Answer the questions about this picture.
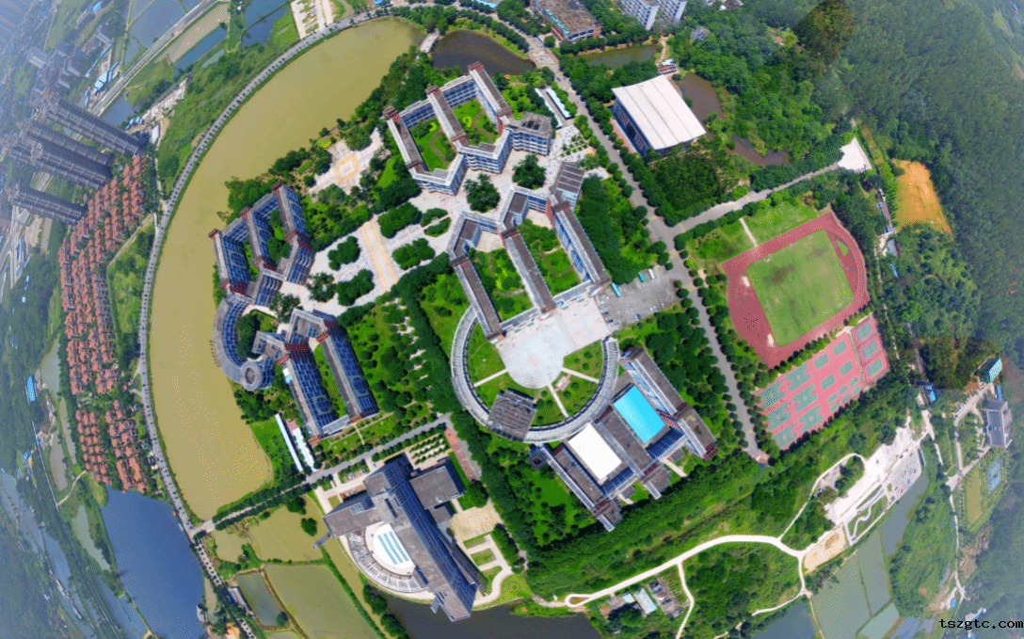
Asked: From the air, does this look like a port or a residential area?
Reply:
residential area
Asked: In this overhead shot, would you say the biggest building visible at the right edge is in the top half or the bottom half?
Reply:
bottom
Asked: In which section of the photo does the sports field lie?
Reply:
right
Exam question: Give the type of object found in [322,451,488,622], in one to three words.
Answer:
building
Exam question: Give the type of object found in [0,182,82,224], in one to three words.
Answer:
building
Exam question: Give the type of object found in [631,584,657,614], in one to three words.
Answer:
shed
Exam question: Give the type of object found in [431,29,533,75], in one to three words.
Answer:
pond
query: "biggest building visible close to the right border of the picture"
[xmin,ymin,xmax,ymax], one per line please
[978,399,1015,446]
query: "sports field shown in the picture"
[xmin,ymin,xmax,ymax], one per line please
[746,230,856,347]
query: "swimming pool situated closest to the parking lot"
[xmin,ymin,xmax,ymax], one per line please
[613,384,667,445]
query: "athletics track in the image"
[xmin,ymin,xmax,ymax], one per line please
[721,209,870,364]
